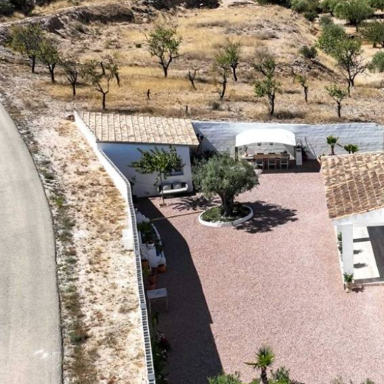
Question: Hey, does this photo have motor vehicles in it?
No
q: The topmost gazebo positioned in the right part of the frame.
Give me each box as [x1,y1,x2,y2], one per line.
[235,131,300,171]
